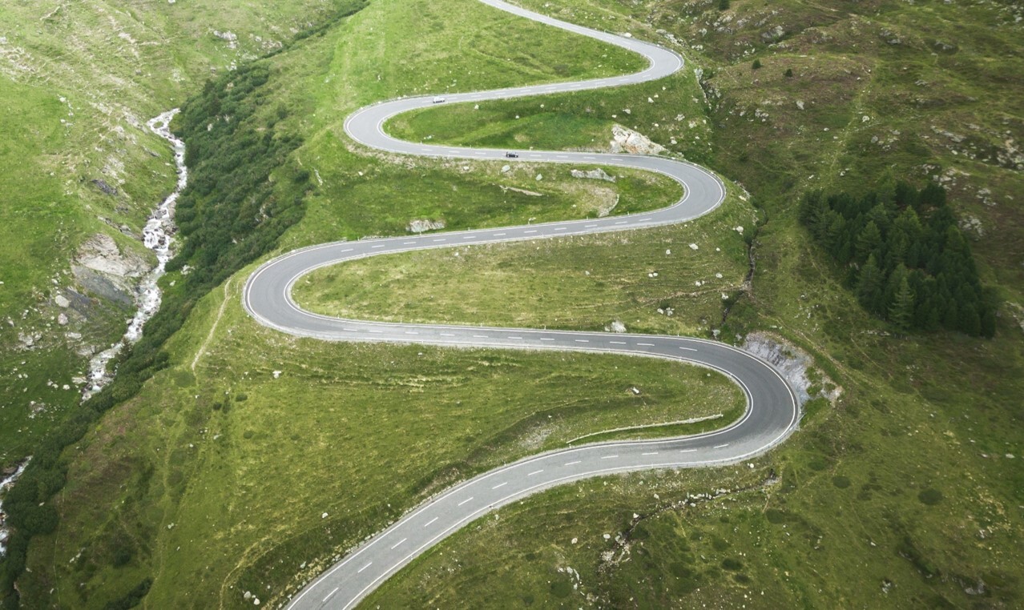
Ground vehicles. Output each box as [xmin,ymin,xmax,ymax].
[432,96,444,102]
[505,151,518,157]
